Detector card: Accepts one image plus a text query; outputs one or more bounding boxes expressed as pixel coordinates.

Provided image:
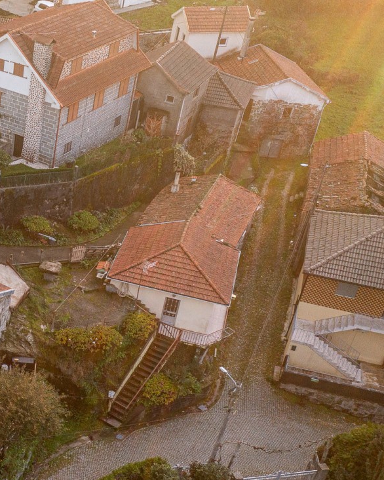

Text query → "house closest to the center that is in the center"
[106,160,261,362]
